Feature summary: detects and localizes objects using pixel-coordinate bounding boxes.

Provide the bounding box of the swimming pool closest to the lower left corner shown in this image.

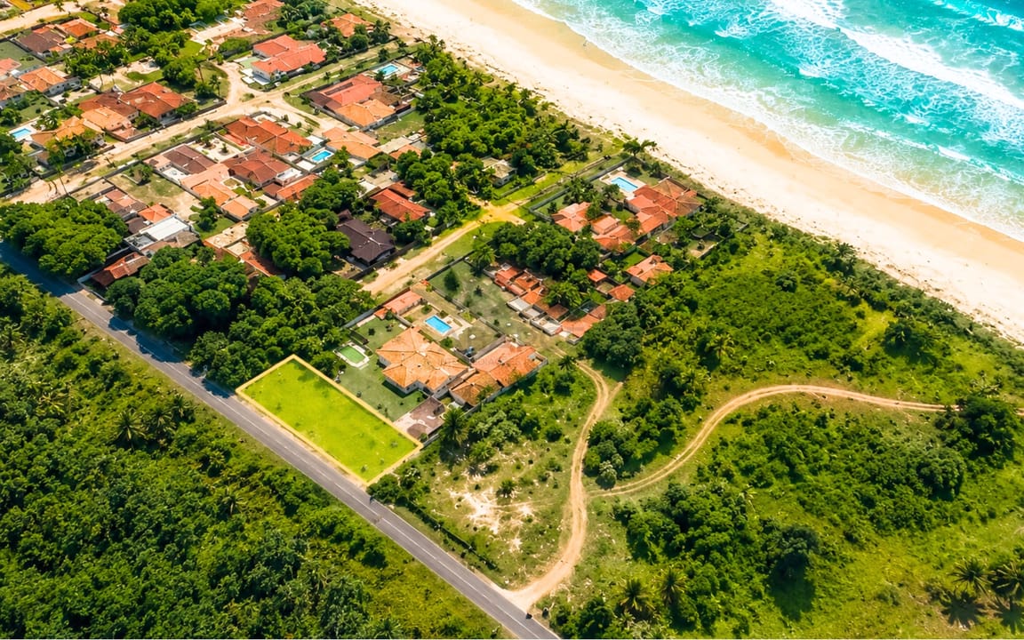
[340,343,369,366]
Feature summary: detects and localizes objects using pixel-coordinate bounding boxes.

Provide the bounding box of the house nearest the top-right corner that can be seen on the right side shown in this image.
[629,178,705,236]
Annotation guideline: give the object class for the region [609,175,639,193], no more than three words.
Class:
swimming pool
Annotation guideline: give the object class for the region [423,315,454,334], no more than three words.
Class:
swimming pool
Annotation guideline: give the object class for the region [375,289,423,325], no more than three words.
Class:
shed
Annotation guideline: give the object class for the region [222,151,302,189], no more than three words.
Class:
house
